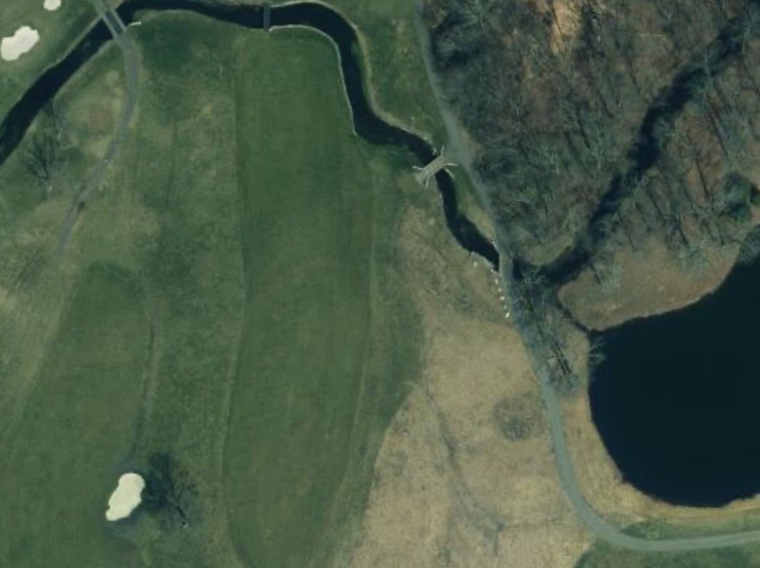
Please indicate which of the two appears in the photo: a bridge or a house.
bridge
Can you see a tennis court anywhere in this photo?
No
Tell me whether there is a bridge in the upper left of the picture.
Yes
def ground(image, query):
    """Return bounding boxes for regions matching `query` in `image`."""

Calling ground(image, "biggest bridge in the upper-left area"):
[97,2,129,44]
